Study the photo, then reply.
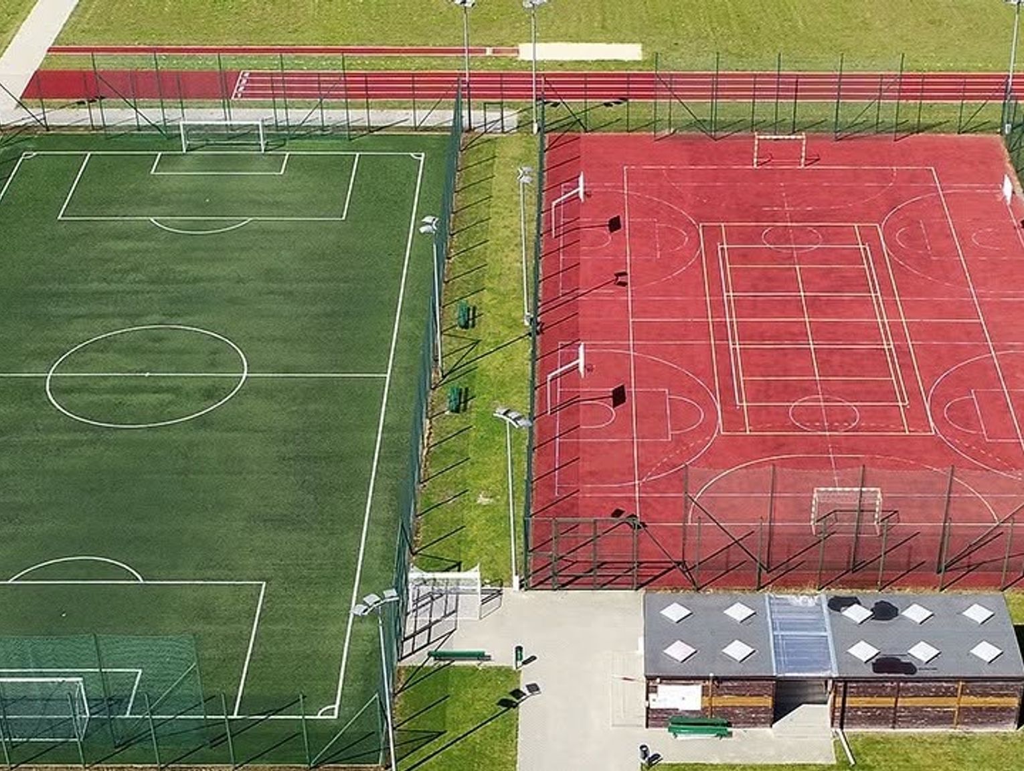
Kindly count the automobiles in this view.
0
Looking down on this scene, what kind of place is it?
sports ground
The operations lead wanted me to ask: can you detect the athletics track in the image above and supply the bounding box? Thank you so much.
[20,70,1024,101]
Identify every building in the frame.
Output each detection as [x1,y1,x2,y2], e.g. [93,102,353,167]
[638,590,1024,727]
